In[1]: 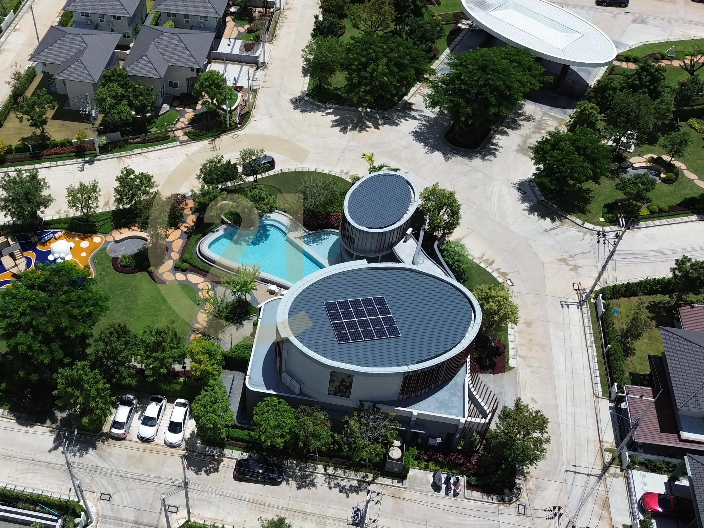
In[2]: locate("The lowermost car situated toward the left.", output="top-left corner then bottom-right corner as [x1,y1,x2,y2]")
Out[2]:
[230,454,289,487]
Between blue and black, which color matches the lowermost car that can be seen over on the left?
black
